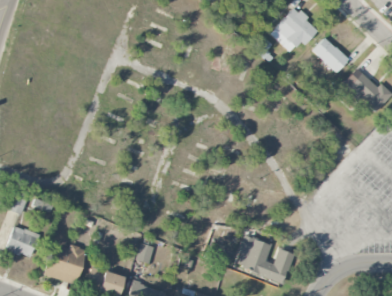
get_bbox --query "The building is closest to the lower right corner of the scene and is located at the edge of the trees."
[242,237,294,285]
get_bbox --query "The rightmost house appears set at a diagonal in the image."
[353,68,392,108]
